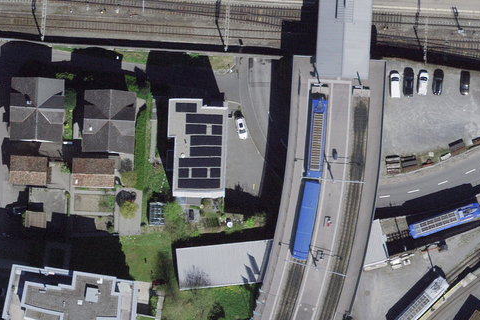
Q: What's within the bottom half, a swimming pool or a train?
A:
train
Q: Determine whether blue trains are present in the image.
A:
Yes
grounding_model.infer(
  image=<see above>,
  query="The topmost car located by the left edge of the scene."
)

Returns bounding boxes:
[7,204,30,216]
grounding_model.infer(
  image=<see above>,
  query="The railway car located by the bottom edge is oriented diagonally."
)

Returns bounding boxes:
[396,276,448,320]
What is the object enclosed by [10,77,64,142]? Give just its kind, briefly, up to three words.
house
